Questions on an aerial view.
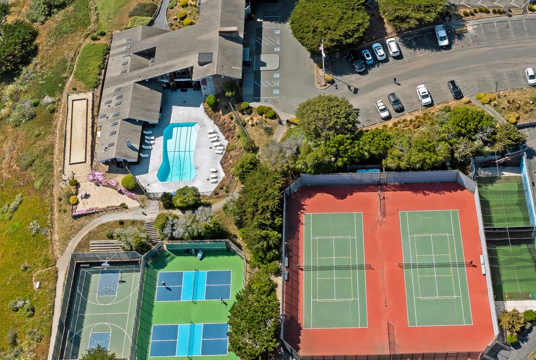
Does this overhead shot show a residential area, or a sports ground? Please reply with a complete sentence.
This looks like a sports ground.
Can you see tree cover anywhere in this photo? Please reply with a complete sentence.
Yes, some tree cover is visible.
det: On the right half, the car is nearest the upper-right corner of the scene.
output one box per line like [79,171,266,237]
[524,67,536,86]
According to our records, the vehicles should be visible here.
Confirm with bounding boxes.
[435,24,449,46]
[360,48,372,65]
[416,85,431,105]
[387,38,400,56]
[388,93,403,112]
[374,100,390,119]
[371,43,386,61]
[524,67,536,86]
[346,50,364,72]
[447,79,462,98]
